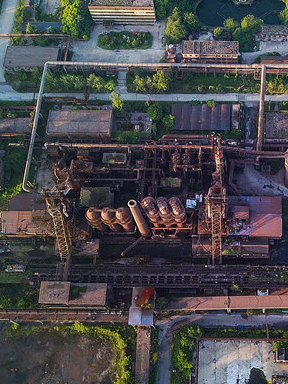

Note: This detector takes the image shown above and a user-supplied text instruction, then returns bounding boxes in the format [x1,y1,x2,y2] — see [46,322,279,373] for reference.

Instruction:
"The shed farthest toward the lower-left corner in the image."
[38,282,73,308]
